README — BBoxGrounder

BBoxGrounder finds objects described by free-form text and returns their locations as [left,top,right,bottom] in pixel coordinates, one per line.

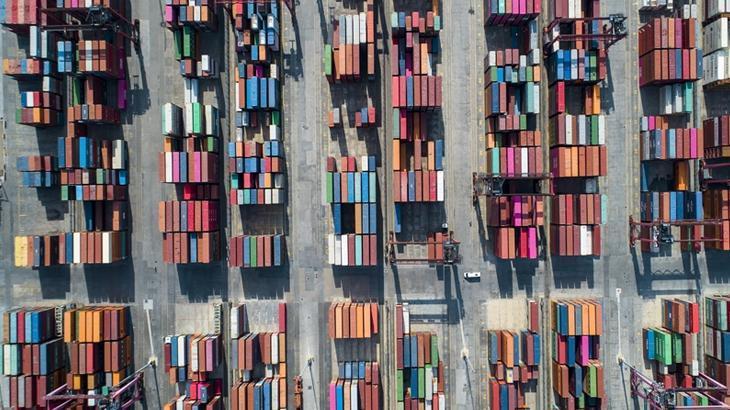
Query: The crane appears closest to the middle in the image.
[385,232,465,264]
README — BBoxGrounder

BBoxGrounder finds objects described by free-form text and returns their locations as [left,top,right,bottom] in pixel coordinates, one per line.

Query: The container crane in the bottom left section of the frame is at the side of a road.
[41,372,146,410]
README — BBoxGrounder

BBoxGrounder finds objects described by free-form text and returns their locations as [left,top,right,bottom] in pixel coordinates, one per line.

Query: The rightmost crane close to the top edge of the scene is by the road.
[543,14,634,58]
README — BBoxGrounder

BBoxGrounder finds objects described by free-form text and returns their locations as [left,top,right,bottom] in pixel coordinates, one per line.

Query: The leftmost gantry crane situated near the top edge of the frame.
[35,5,140,50]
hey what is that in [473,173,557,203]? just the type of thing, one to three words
container crane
